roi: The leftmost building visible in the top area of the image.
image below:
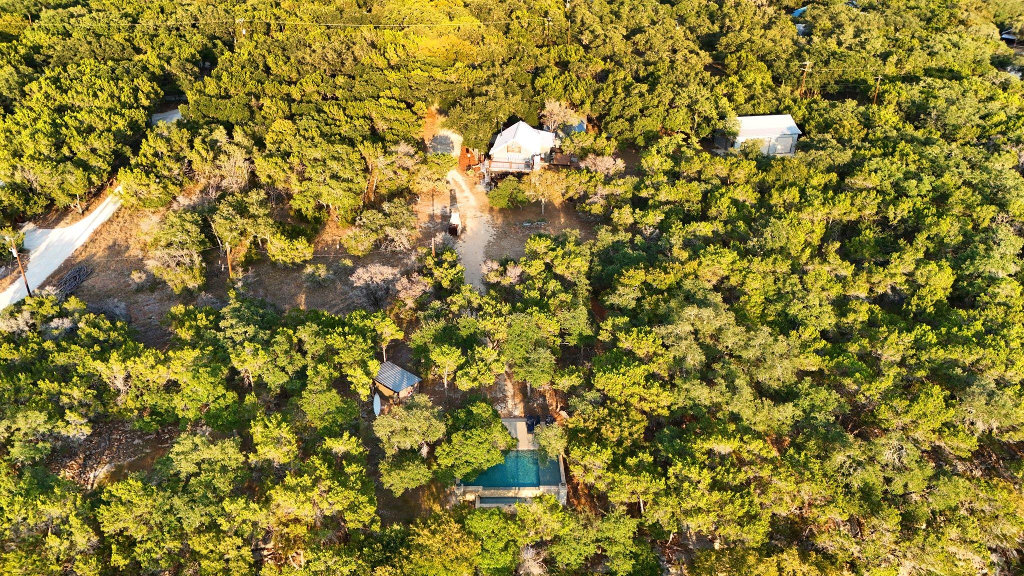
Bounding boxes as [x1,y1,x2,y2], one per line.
[479,120,558,192]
